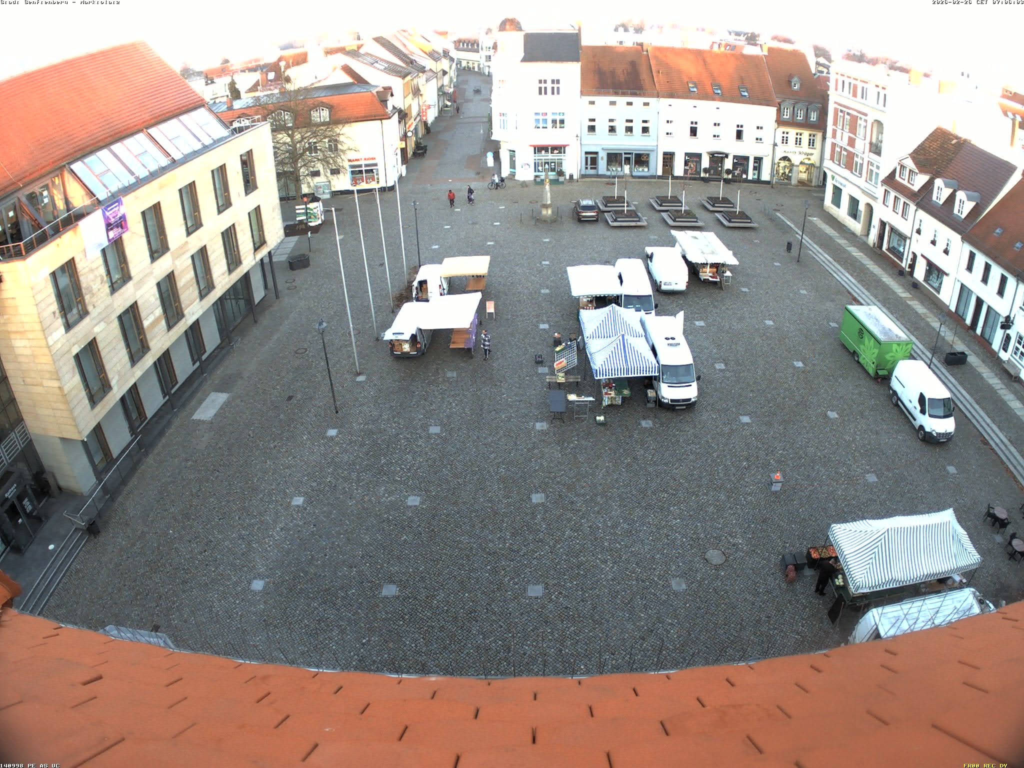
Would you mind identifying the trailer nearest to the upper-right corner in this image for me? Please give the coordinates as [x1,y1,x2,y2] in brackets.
[839,301,916,375]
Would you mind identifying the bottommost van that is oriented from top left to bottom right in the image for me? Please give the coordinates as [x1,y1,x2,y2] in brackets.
[882,352,953,443]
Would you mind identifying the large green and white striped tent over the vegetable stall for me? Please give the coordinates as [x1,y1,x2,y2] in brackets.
[822,509,983,630]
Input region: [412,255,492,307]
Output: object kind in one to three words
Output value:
van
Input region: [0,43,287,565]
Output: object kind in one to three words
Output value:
building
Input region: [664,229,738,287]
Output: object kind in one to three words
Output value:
trailer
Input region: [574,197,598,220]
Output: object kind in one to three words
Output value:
car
